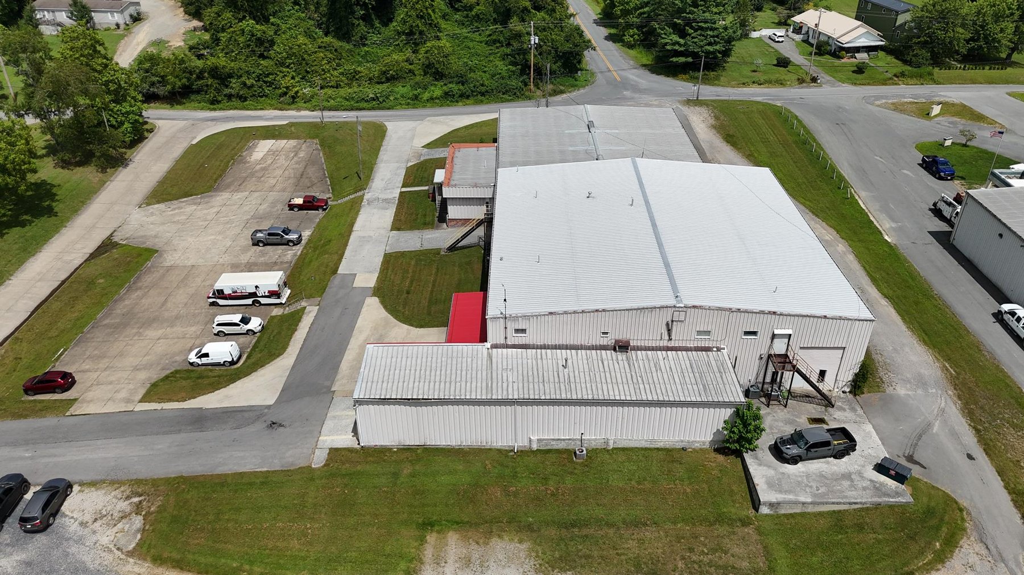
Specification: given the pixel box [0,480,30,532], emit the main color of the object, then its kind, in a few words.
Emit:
black car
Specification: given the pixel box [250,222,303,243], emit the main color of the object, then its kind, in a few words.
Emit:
gray truck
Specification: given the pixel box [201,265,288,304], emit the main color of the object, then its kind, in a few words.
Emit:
white truck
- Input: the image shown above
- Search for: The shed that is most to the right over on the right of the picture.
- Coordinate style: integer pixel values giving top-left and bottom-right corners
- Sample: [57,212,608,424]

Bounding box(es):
[951,183,1024,304]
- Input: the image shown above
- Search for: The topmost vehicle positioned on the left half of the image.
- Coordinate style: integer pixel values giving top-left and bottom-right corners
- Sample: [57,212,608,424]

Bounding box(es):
[288,191,330,208]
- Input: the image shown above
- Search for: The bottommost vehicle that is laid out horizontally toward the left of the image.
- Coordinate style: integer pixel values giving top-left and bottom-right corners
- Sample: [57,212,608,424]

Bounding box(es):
[15,366,80,393]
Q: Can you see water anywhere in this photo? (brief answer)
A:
No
